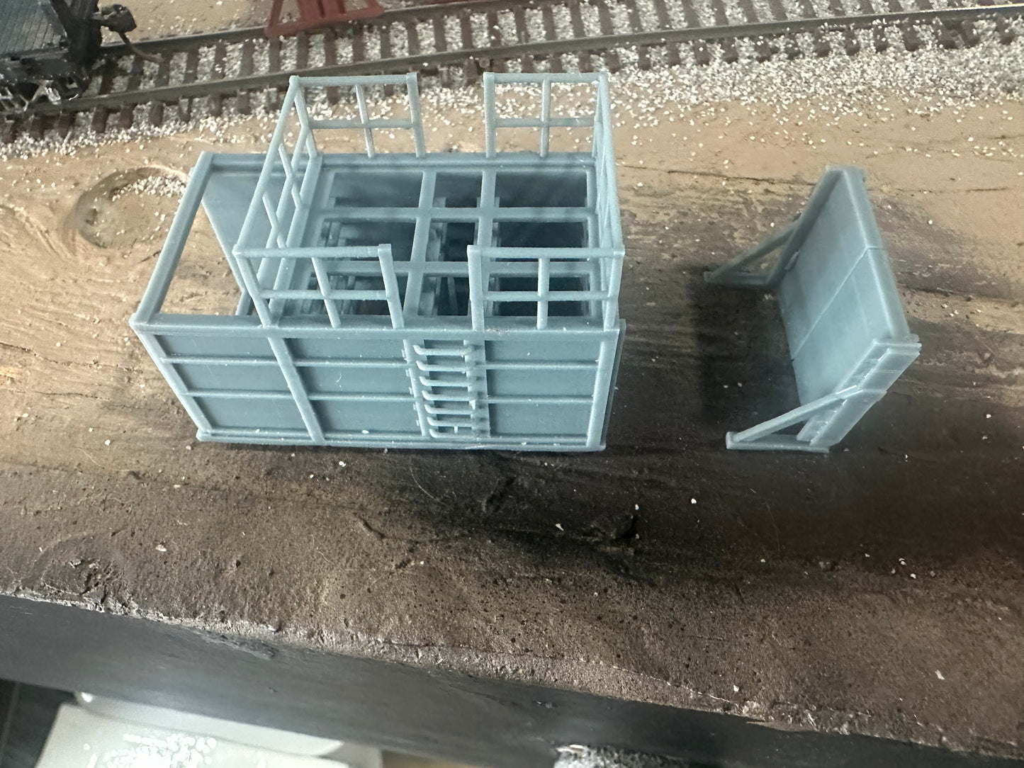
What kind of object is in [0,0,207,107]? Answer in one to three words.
rail car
